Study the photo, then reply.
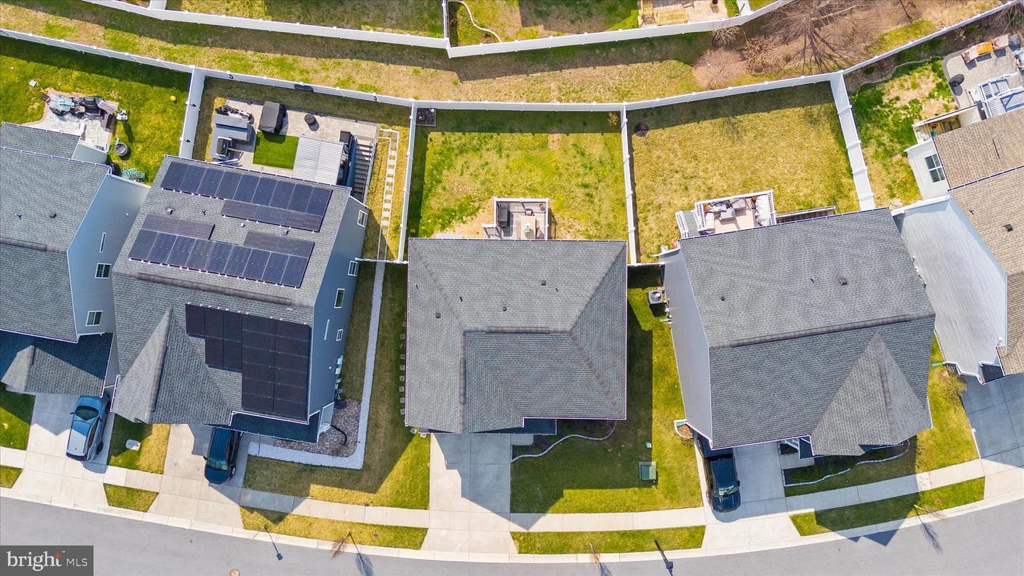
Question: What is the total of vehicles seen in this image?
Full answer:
There are 3 vehicles in the image.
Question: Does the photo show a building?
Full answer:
Yes, a building can be made out from above.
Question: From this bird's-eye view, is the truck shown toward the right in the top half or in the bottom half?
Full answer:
Seen from above, the truck shown toward the right lies in the bottom half of the view.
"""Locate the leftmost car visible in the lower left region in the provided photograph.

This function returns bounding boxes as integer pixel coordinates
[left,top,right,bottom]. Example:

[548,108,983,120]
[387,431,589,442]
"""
[64,395,110,465]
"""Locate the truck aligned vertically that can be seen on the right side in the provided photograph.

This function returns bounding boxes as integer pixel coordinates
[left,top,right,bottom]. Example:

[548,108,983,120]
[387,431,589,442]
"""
[698,434,743,512]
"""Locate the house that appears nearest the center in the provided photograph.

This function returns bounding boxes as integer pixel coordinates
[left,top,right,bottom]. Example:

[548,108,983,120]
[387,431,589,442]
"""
[405,237,628,435]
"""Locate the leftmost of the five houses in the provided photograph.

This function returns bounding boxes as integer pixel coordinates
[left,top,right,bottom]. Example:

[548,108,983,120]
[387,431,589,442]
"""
[0,119,152,397]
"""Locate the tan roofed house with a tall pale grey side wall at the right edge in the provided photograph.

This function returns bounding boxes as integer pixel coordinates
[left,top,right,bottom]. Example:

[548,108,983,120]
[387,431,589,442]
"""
[900,107,1024,393]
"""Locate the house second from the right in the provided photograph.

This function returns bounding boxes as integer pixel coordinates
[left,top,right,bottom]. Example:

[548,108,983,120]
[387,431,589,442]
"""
[654,205,936,462]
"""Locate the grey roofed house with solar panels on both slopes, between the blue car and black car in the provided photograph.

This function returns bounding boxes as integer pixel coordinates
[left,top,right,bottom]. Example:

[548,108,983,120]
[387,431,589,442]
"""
[108,153,366,446]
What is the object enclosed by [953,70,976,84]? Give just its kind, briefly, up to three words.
umbrella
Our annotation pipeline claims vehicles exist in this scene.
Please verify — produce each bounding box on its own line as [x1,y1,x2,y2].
[64,395,110,465]
[202,427,242,484]
[698,434,743,512]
